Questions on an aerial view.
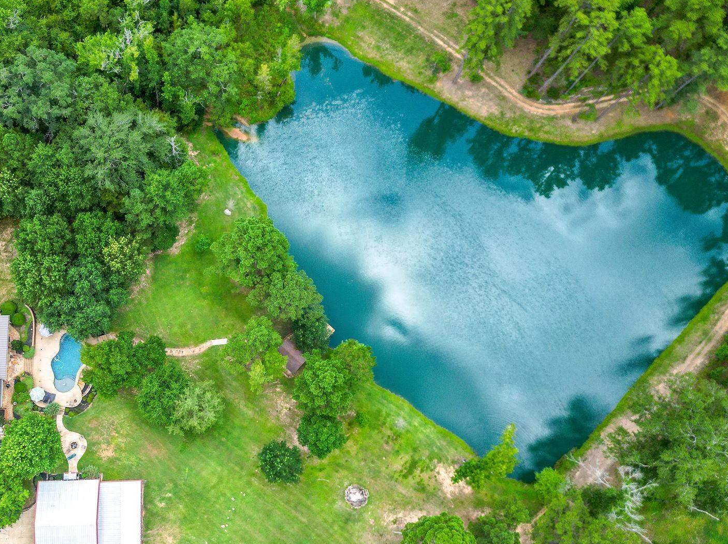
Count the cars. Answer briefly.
0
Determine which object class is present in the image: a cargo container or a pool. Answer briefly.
pool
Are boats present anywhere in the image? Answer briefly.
No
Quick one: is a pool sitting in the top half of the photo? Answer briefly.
No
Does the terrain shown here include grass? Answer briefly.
Yes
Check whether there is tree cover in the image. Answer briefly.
Yes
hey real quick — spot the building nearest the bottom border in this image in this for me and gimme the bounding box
[31,479,143,544]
